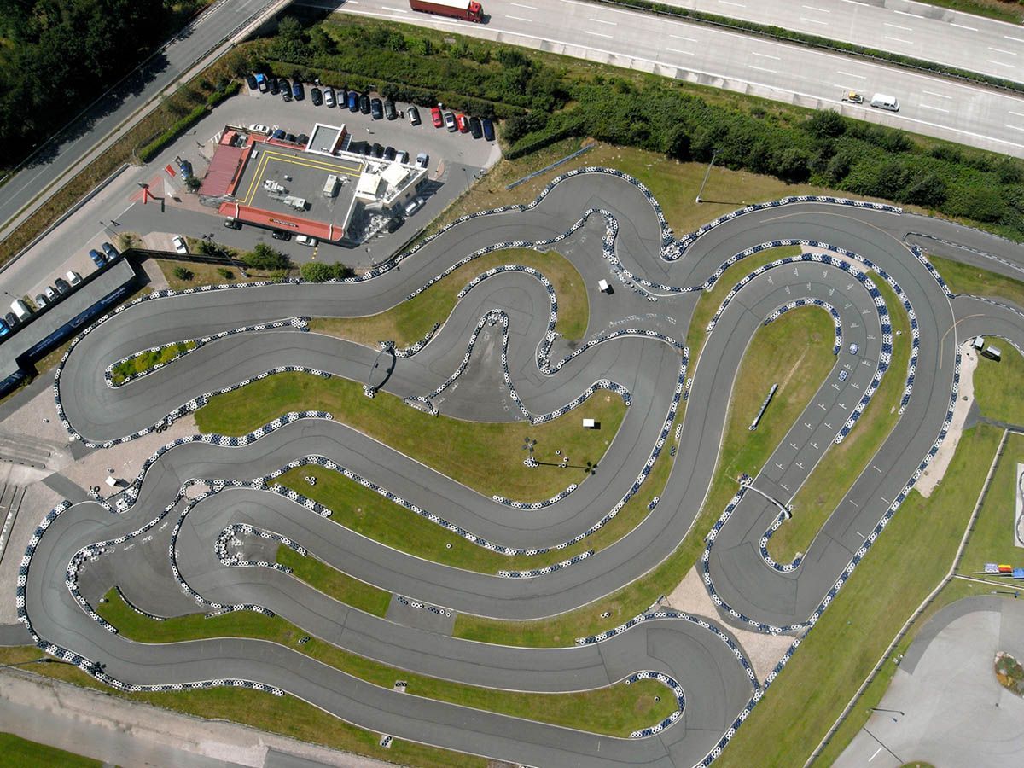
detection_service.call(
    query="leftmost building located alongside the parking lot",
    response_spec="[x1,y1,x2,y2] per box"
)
[0,257,141,393]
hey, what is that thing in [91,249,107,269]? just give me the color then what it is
blue car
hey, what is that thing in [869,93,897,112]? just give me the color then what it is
white vehicle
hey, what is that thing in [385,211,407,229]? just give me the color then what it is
black car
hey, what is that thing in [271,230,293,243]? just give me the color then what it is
black vehicle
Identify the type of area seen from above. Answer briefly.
sports ground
